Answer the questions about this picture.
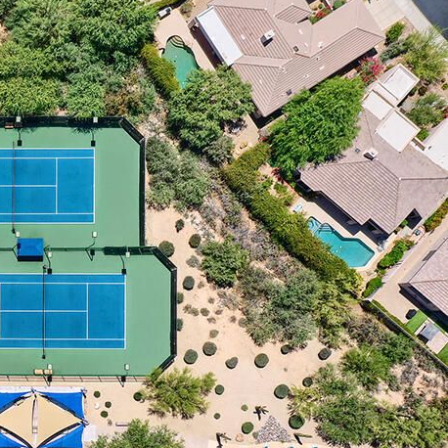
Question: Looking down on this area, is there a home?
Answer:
Yes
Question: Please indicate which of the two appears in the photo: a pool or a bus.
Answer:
pool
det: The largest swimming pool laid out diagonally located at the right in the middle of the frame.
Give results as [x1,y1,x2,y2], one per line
[308,213,378,270]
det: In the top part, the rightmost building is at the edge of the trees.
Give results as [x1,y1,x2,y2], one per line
[293,63,448,233]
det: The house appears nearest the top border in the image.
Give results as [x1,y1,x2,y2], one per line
[189,0,385,117]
